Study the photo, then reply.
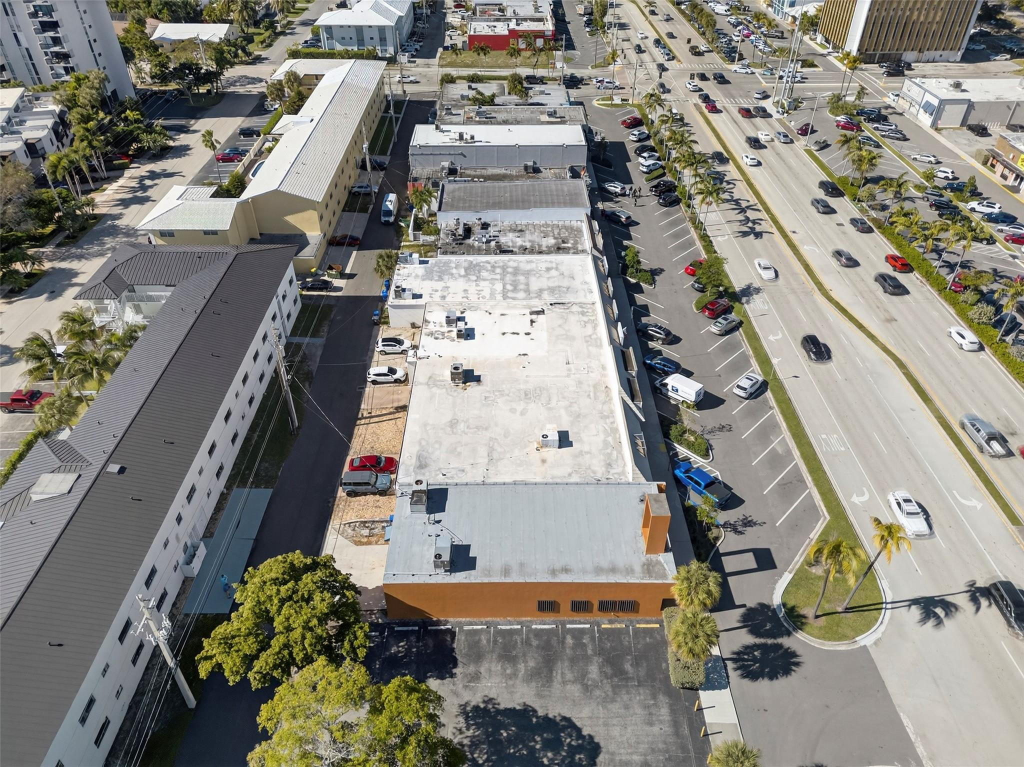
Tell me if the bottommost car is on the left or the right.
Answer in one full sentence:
The bottommost car sits on the right side.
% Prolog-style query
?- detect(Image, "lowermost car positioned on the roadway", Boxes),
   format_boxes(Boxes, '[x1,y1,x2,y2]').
[985,573,1024,641]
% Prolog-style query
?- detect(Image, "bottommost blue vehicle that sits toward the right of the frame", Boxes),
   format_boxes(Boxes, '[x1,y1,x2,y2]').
[669,459,739,507]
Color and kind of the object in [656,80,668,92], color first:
gray vehicle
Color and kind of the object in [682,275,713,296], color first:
gray car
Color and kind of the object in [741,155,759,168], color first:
white vehicle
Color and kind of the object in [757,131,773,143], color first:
white vehicle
